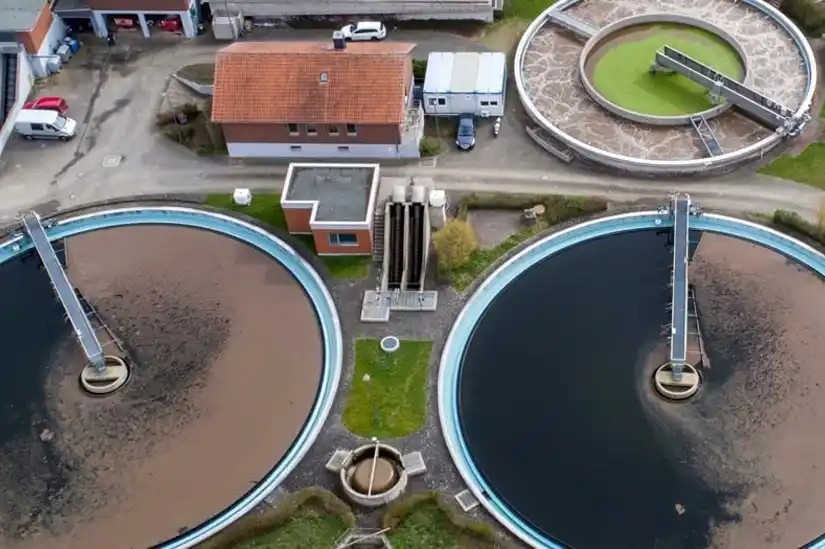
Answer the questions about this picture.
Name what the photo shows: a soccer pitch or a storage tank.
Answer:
storage tank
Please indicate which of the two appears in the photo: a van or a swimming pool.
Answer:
van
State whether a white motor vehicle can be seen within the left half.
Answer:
Yes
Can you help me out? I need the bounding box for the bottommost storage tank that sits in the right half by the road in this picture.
[437,210,825,549]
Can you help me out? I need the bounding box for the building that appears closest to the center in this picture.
[371,178,450,289]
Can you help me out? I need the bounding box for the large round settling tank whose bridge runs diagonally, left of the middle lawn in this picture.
[0,206,343,549]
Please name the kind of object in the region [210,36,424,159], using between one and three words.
house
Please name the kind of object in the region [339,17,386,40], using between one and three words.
car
